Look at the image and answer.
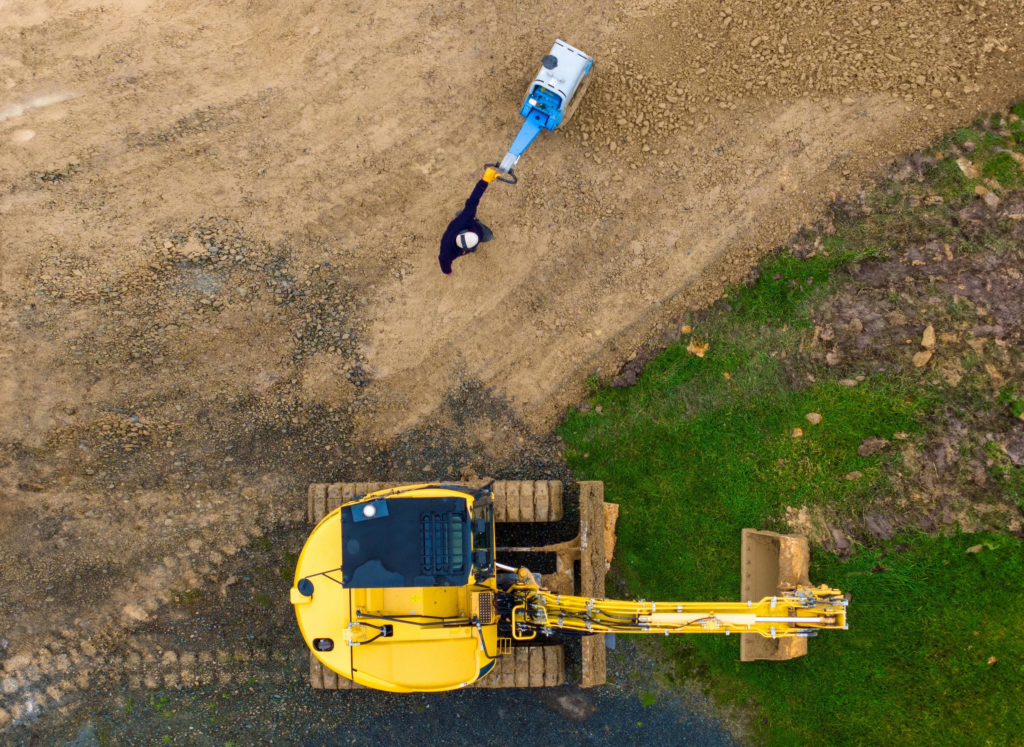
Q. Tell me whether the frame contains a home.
No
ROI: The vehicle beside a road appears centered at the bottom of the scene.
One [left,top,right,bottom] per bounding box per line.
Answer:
[291,476,849,692]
